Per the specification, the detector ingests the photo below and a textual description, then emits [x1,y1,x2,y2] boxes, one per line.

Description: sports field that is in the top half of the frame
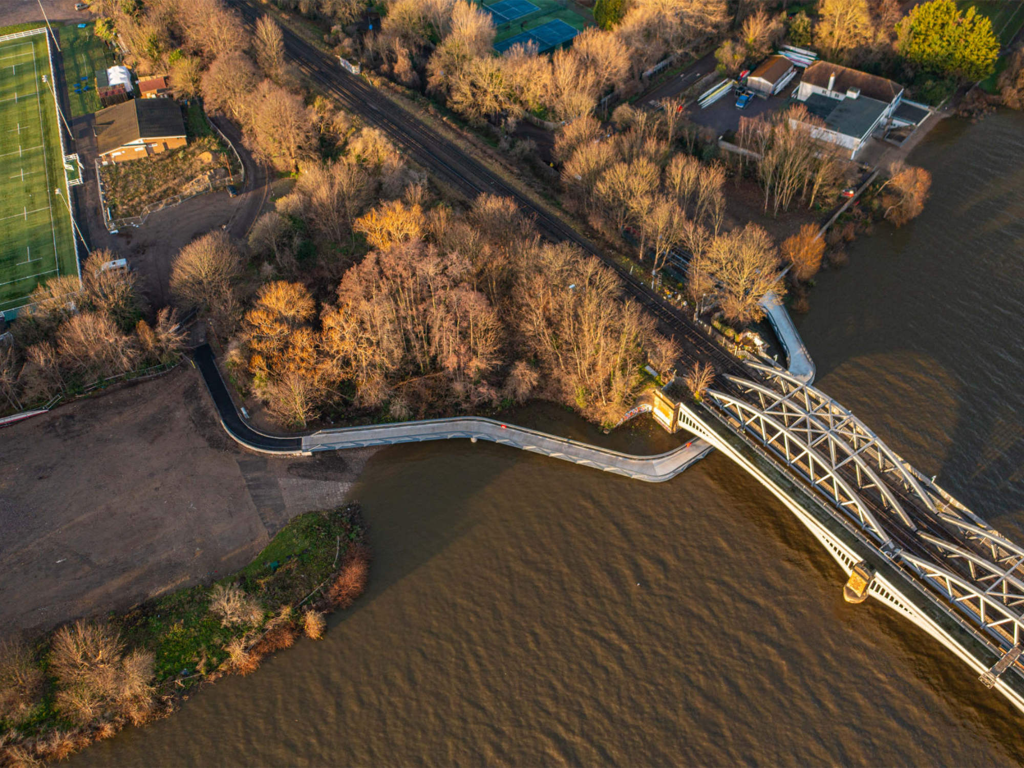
[0,37,85,325]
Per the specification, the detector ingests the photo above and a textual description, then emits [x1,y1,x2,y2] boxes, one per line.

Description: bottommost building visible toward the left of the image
[91,98,187,168]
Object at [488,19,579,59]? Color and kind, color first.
blue tennis court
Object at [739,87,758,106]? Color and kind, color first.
blue vehicle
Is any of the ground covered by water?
Yes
